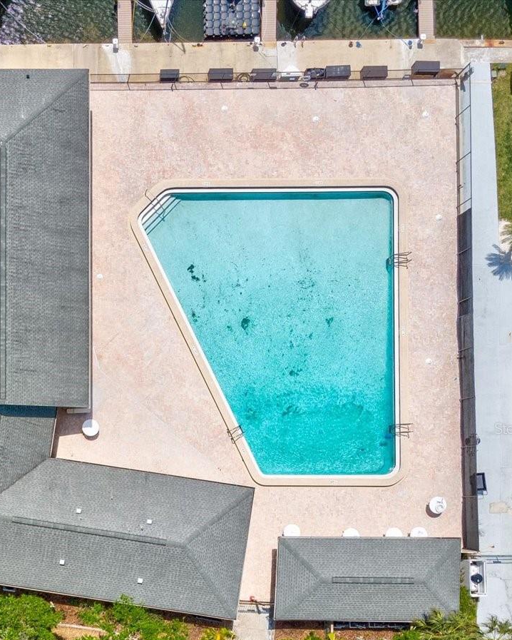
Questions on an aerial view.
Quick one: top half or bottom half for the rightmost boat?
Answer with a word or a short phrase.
top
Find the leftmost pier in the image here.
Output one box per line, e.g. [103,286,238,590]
[112,0,137,42]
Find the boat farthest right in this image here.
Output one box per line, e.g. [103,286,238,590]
[363,0,397,25]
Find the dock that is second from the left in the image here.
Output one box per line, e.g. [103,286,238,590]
[203,0,258,38]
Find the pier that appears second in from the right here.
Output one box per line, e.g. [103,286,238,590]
[254,0,282,41]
